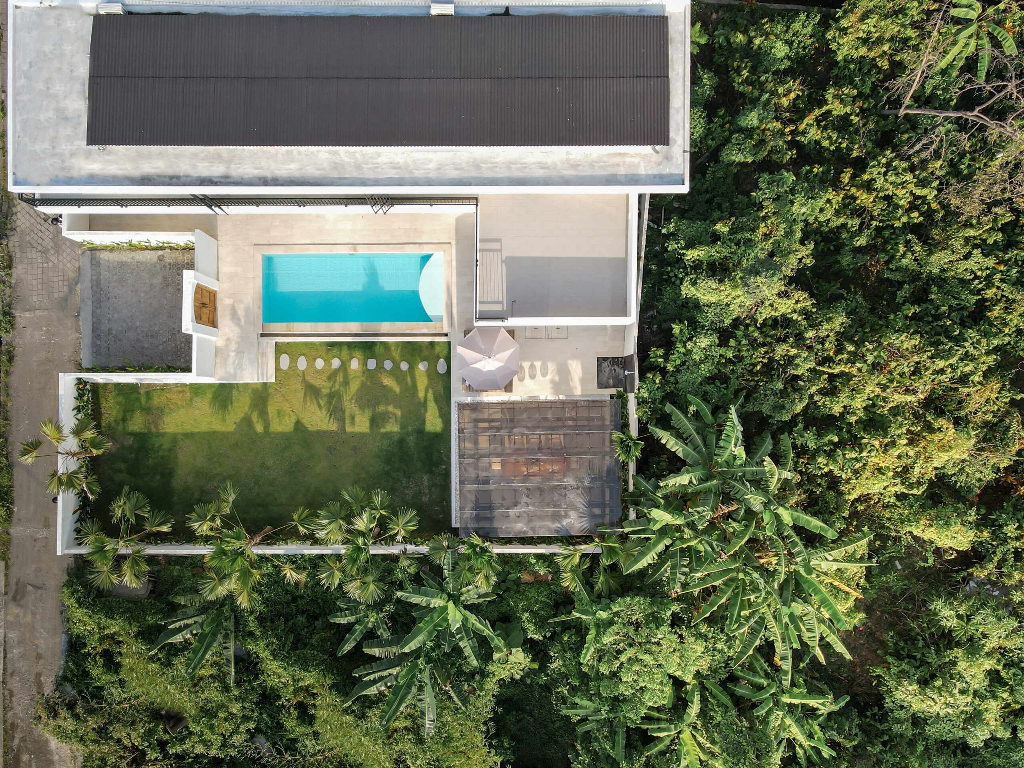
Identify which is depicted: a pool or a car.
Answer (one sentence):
The one in the frame is a pool.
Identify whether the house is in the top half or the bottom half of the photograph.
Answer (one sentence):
The house is in the top half of the image.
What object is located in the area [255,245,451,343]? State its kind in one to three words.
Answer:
swimming pool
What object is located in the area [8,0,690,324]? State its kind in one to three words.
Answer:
house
